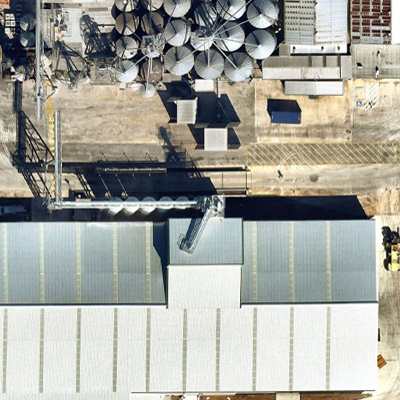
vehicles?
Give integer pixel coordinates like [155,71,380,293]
[387,230,400,272]
[0,206,25,216]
